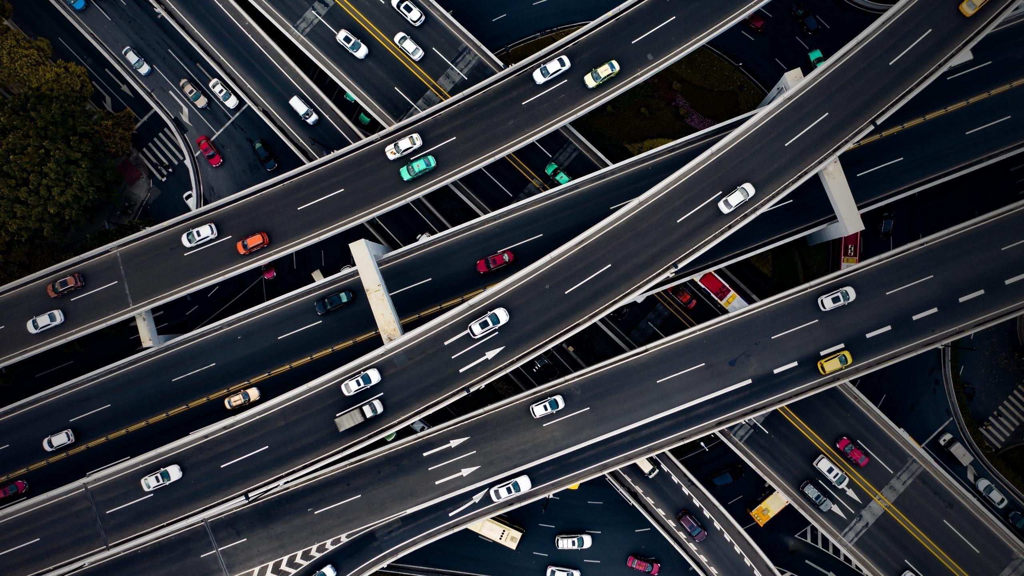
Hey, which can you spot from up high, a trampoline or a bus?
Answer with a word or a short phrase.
bus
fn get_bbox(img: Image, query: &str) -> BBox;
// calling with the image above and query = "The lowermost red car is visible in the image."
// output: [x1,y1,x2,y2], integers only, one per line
[625,554,661,576]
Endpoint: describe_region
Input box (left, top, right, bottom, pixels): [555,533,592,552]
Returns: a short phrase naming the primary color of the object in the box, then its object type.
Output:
white car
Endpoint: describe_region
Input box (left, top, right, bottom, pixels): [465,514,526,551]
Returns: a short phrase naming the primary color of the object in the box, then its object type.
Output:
white bus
